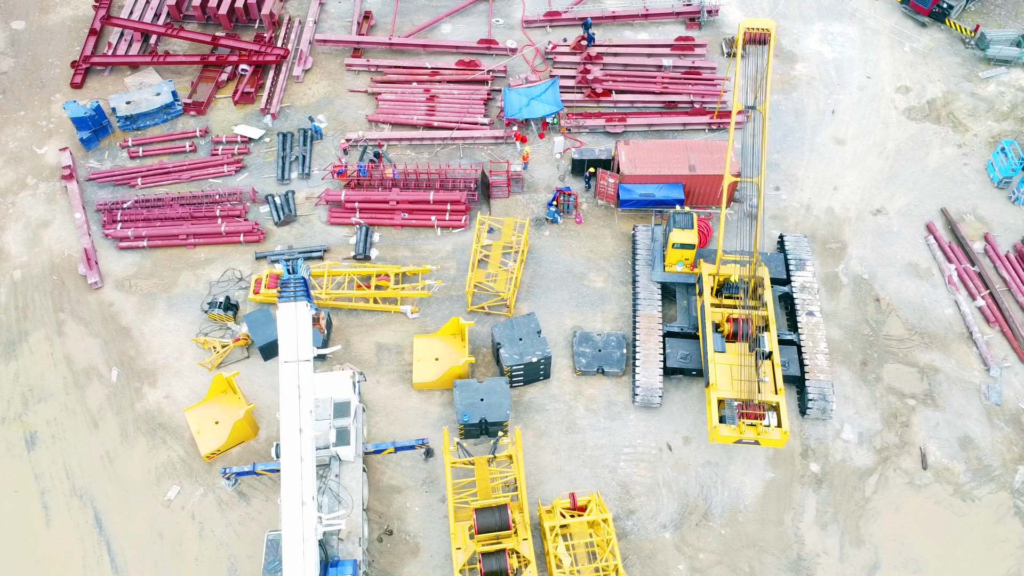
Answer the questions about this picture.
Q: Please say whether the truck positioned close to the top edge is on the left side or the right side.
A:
right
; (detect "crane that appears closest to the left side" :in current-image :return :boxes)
[218,259,435,576]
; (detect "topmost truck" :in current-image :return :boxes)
[894,0,982,47]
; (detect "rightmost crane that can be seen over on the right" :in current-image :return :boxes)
[630,17,831,449]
